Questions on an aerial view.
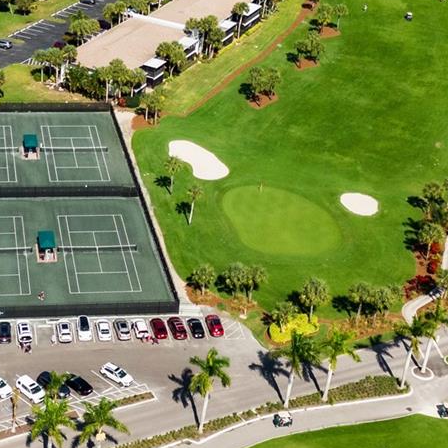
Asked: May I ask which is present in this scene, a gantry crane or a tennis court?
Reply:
tennis court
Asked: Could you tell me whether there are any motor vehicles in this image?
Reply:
Yes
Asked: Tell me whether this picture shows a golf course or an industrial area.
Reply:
golf course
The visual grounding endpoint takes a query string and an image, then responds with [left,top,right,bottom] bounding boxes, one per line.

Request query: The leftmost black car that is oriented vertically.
[0,320,12,345]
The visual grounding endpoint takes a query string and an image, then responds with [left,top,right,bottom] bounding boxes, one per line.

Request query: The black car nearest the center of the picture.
[186,317,205,341]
